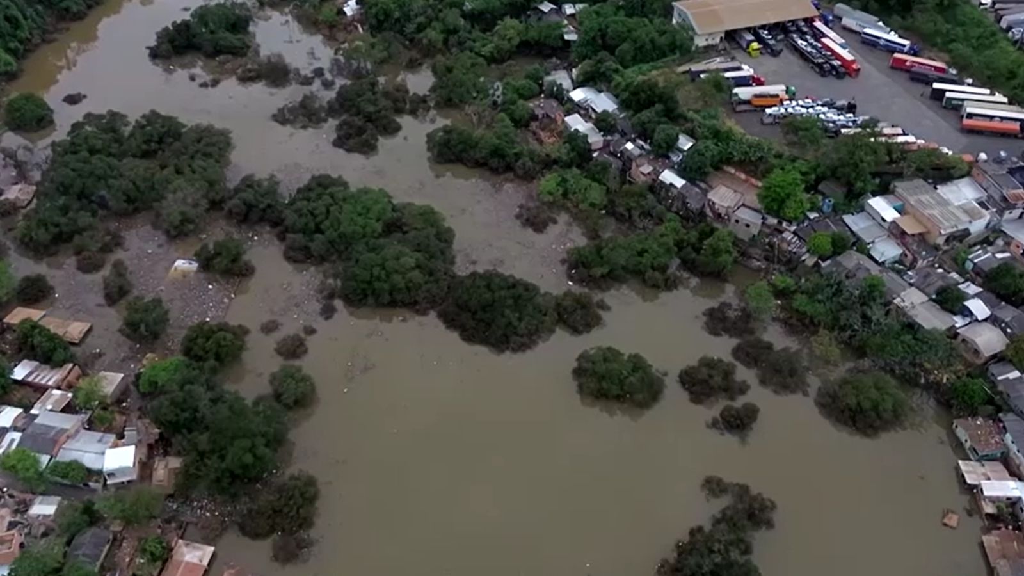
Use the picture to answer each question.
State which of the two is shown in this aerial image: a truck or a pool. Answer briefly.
truck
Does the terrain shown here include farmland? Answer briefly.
No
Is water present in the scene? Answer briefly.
Yes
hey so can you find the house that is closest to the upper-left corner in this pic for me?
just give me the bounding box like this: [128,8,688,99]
[0,183,39,215]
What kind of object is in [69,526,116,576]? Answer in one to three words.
house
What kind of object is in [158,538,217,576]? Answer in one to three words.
house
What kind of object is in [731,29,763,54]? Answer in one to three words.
truck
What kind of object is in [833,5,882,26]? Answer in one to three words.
truck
